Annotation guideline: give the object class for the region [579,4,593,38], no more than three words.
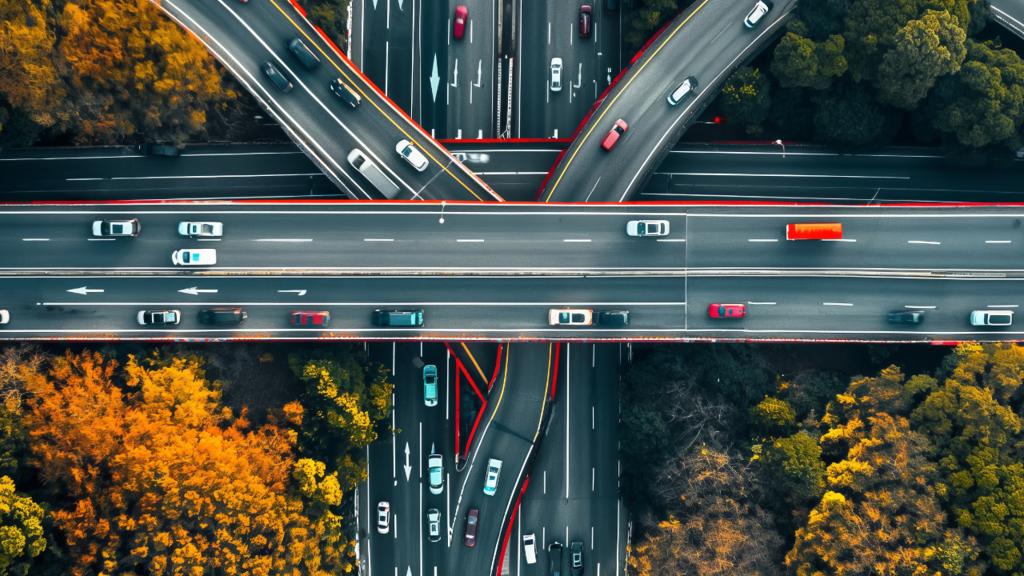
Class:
car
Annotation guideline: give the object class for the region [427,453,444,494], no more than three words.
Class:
car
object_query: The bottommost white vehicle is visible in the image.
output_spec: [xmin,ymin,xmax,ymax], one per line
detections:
[522,534,537,567]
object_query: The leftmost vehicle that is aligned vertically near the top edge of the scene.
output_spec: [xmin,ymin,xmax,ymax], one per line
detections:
[452,4,467,39]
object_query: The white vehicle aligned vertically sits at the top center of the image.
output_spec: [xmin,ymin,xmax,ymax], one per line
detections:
[549,56,564,91]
